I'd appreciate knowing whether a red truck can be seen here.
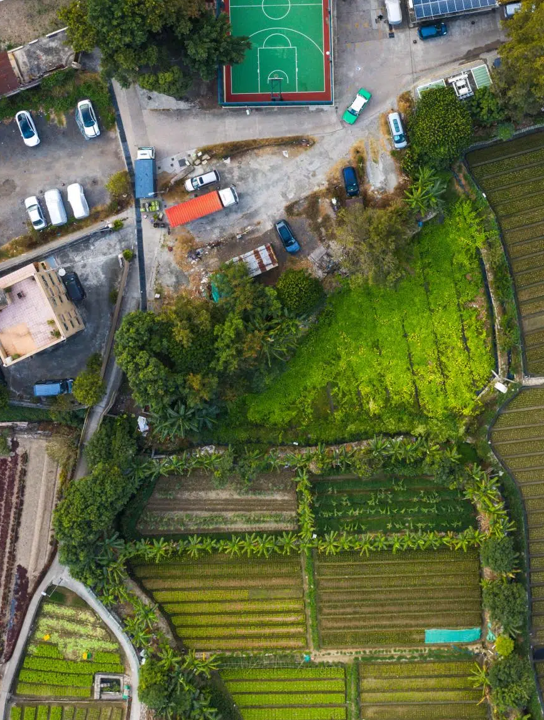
Yes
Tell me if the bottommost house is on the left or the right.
left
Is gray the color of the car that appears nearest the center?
No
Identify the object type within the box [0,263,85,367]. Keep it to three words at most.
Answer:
house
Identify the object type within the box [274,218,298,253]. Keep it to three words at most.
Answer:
car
